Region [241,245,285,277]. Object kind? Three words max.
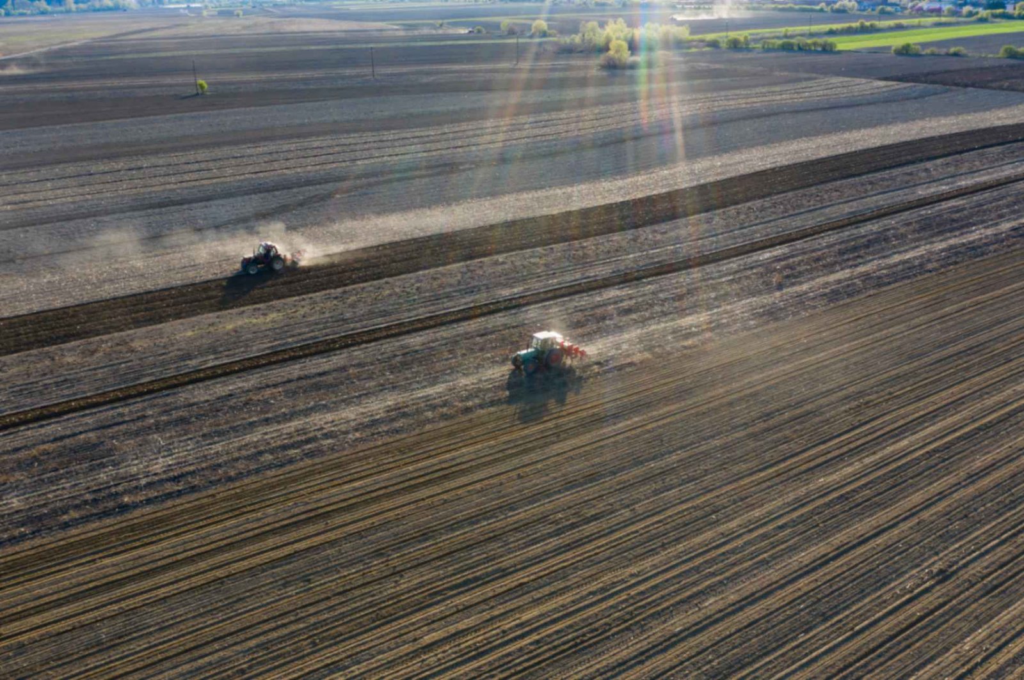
work vehicle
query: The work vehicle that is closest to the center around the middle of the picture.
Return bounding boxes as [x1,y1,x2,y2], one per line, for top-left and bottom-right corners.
[515,335,568,377]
